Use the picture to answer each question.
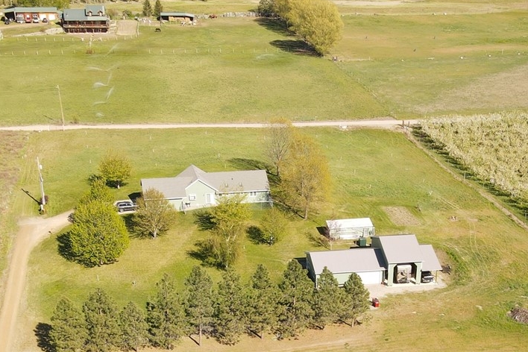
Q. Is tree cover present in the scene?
Yes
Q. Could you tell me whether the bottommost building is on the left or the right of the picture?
right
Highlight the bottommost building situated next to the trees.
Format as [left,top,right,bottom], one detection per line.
[309,233,443,288]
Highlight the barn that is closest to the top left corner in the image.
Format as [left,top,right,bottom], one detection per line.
[1,8,62,22]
